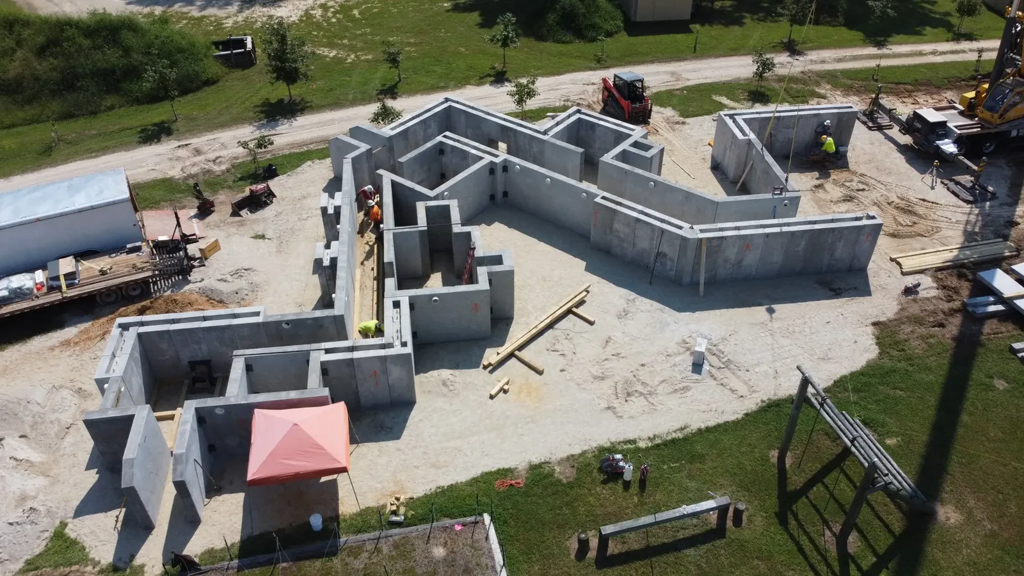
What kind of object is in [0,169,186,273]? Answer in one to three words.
trailer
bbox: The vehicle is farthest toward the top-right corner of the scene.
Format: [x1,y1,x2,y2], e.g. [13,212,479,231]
[604,80,651,131]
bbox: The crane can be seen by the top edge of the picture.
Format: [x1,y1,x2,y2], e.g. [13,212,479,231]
[875,0,1024,186]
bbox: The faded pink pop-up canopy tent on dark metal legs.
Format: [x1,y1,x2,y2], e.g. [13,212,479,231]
[248,402,357,525]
